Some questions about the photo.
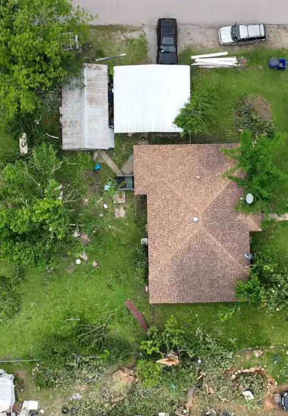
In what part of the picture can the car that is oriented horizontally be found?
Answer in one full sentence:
The car that is oriented horizontally sits in the top right section of the image.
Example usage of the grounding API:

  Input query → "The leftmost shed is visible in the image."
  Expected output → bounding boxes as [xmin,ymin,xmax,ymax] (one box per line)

[59,63,113,150]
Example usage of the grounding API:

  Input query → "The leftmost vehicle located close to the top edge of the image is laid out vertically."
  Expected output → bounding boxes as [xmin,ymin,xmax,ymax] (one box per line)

[155,16,180,65]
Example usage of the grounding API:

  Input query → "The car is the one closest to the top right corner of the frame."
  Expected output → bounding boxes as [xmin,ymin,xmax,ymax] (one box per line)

[216,25,267,48]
